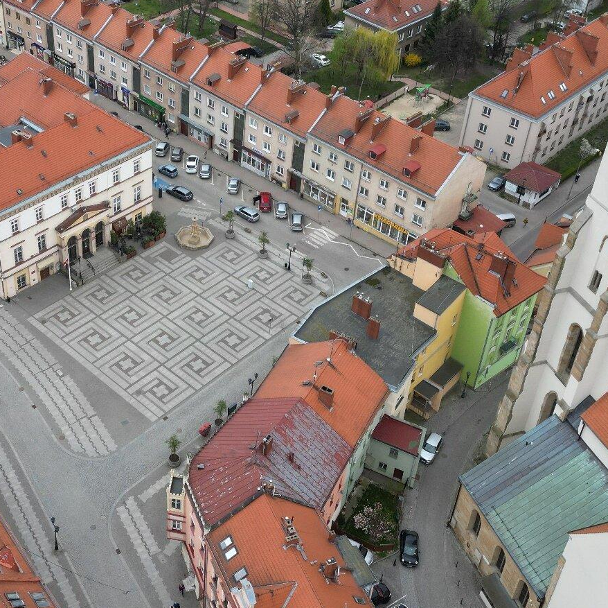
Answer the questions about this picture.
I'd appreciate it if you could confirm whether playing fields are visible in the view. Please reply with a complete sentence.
No, no playing field is visible in the view.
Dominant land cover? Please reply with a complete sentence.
For the most part, this view shows buildings.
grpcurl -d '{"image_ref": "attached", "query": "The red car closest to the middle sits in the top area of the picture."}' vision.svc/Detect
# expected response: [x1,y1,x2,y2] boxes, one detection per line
[260,195,272,211]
